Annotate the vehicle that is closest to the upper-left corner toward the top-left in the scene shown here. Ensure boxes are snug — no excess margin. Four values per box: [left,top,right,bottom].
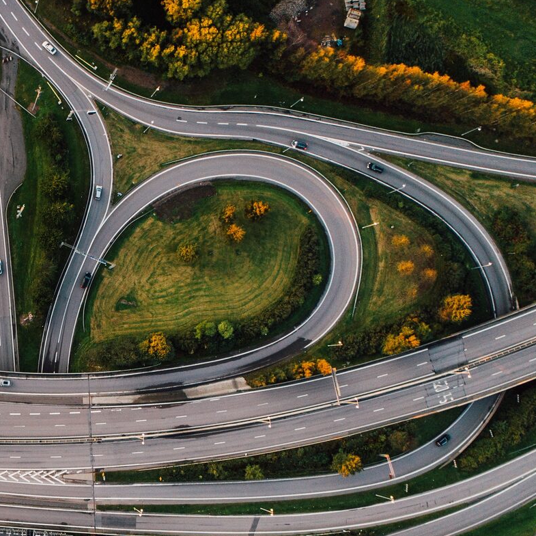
[41,40,56,56]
